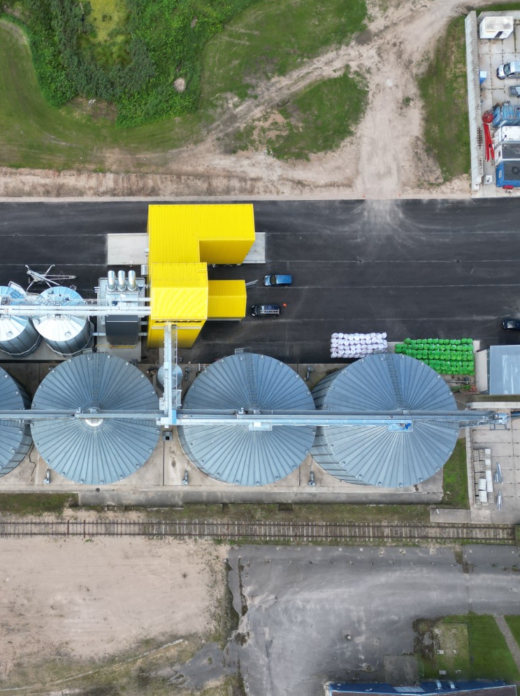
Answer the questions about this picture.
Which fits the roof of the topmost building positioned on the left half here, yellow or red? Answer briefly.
yellow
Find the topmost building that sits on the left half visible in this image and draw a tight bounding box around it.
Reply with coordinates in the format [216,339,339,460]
[144,203,255,288]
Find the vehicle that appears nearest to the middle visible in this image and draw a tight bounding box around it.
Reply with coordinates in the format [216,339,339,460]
[250,302,281,317]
